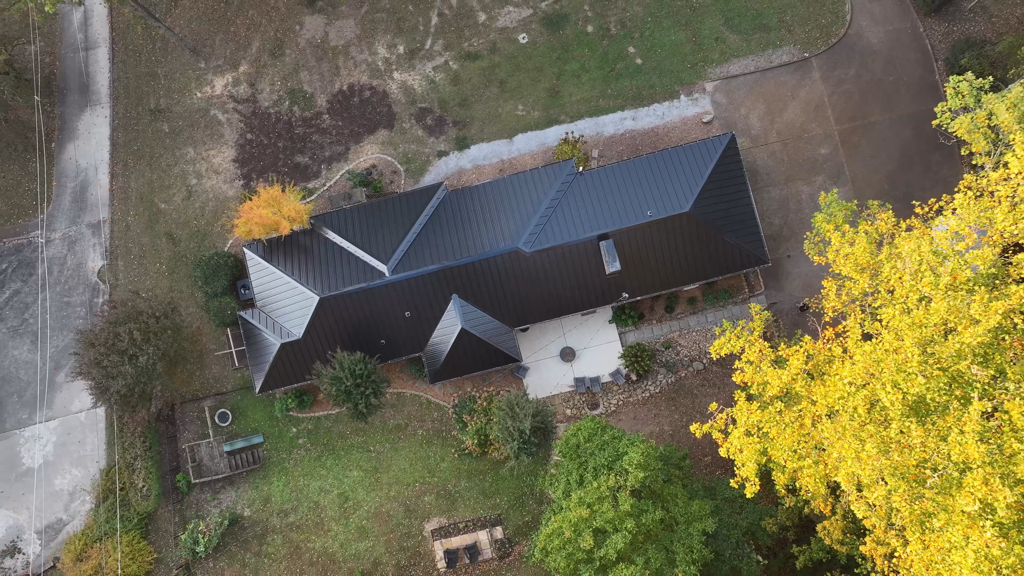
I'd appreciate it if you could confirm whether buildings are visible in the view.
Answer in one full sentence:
Yes, there's a building here.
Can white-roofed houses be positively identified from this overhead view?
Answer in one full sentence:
No, the picture doesn't show any white-roofed house.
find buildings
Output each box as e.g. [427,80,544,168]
[235,130,770,396]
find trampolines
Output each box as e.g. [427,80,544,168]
[215,409,232,425]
